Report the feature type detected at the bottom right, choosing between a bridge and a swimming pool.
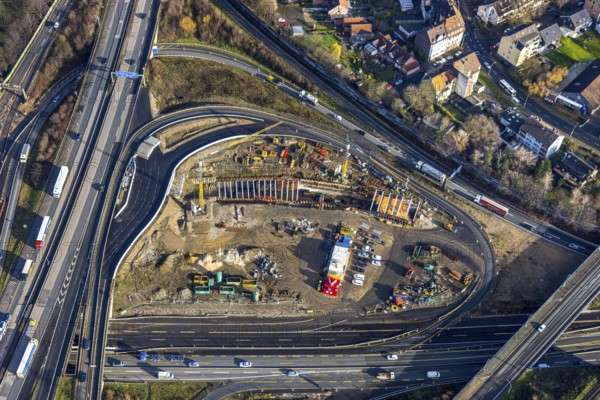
bridge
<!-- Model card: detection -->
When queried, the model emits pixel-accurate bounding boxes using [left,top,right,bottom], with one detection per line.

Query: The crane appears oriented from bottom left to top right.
[178,121,283,217]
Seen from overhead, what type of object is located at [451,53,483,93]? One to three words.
house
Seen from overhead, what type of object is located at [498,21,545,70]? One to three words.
building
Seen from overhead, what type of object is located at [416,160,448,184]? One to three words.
truck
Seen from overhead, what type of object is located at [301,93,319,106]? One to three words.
vehicle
